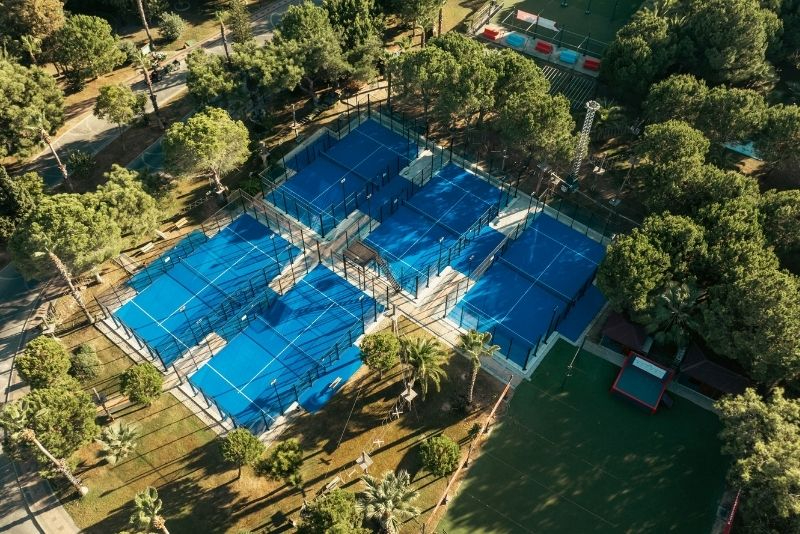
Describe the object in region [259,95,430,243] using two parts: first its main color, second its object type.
blue sports court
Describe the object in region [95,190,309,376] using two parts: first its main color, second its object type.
blue sports court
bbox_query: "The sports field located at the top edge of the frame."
[490,0,680,59]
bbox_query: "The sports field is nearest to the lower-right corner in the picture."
[439,338,760,534]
